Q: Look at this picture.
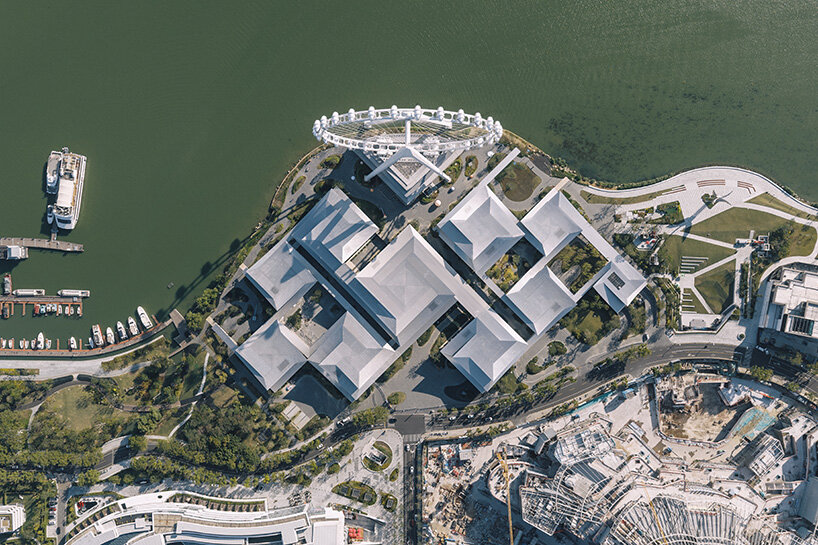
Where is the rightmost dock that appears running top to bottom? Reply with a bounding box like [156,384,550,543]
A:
[169,309,189,346]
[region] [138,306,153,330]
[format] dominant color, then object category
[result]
white boat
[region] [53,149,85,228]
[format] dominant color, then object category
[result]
white ship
